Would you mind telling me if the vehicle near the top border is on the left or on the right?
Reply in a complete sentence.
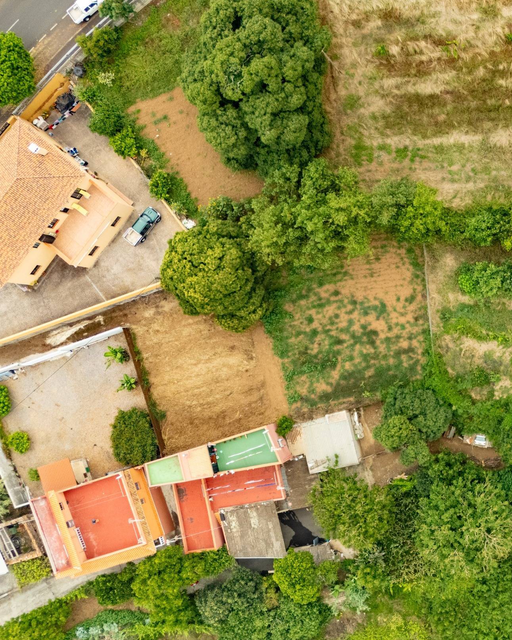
You can find the vehicle near the top border on the left side of the picture.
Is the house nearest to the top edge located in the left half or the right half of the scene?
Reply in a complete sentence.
The house nearest to the top edge is on the left side of the image.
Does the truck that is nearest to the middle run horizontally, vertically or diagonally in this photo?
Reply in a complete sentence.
In this picture, the truck that is nearest to the middle lies diagonally.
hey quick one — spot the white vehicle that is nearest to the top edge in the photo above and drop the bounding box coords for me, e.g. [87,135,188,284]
[69,0,103,20]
